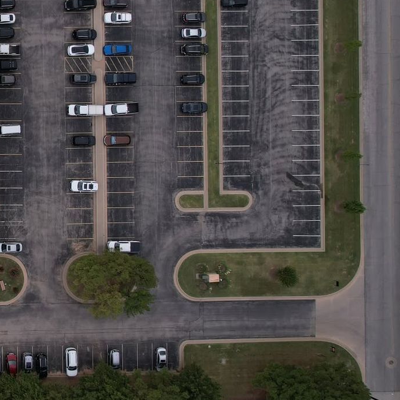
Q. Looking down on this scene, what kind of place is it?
parking lot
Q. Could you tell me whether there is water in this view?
No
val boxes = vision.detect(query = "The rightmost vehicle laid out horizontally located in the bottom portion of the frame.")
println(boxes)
[105,240,141,254]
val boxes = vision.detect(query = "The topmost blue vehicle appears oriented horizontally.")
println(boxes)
[103,42,131,56]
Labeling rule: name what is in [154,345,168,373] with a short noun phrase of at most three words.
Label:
car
